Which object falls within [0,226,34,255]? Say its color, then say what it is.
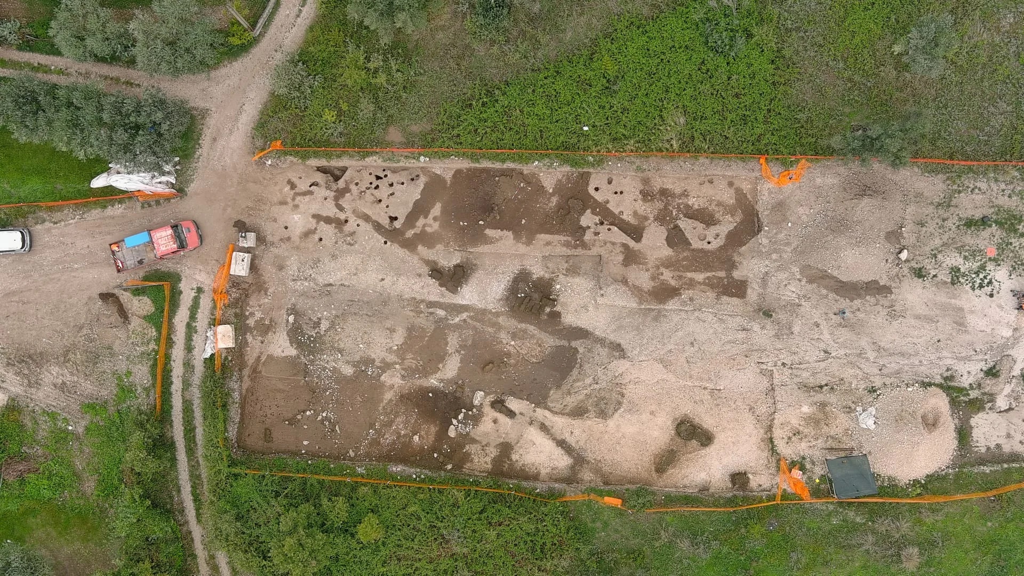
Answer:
white car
